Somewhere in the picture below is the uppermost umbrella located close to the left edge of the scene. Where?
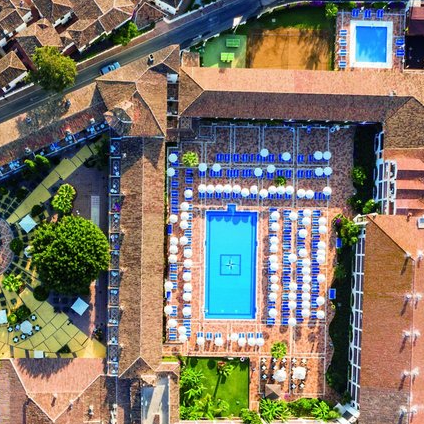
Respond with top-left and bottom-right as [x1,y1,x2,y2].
[20,216,35,231]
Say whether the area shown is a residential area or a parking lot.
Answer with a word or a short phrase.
residential area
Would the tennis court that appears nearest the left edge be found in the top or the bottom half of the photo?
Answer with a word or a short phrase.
top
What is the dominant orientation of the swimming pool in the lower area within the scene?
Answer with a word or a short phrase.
from top to bottom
